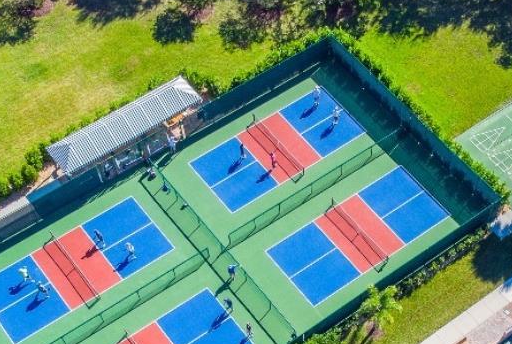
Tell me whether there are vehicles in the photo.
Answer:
No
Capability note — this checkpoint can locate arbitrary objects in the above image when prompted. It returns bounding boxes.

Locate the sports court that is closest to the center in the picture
[190,88,367,213]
